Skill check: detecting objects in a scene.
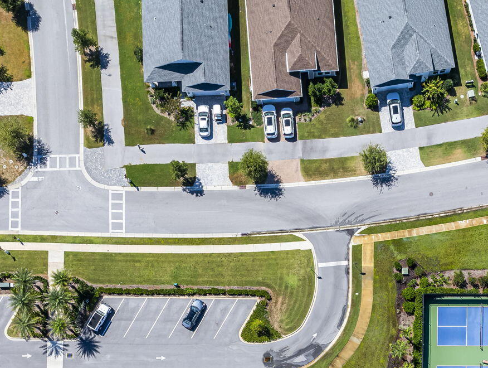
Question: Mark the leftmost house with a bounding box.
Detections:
[143,0,231,99]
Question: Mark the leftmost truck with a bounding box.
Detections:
[87,302,114,335]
